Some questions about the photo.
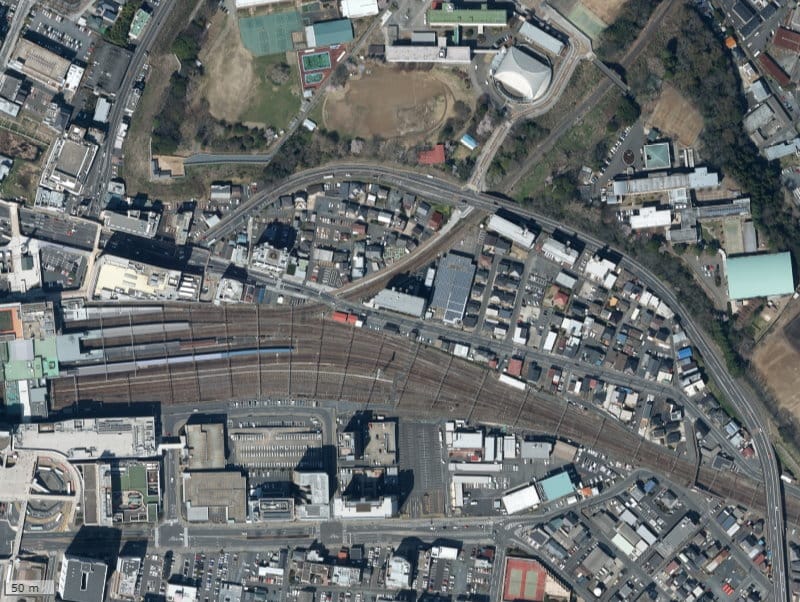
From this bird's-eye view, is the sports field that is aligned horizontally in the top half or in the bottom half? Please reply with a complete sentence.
It is in the top half that the sports field that is aligned horizontally appears.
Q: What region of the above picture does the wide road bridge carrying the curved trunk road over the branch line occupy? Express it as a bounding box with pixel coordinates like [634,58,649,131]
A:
[455,186,505,214]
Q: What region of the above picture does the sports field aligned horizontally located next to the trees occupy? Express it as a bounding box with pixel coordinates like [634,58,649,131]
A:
[320,74,459,143]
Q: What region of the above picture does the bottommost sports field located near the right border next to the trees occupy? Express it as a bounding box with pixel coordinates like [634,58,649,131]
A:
[757,312,800,423]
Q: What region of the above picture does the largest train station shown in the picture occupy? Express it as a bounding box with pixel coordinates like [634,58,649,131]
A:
[15,414,155,458]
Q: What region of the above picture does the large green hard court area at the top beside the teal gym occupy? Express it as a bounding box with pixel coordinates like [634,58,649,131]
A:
[240,12,303,56]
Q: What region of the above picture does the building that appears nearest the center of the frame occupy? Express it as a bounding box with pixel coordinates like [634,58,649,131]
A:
[373,287,427,317]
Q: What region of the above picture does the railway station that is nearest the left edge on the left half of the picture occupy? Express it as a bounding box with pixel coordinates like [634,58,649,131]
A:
[4,333,59,380]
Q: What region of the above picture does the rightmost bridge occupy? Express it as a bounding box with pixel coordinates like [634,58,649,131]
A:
[733,396,787,602]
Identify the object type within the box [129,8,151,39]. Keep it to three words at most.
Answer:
building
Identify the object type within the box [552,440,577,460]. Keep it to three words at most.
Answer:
shed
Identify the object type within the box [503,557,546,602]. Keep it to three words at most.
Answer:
tennis court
